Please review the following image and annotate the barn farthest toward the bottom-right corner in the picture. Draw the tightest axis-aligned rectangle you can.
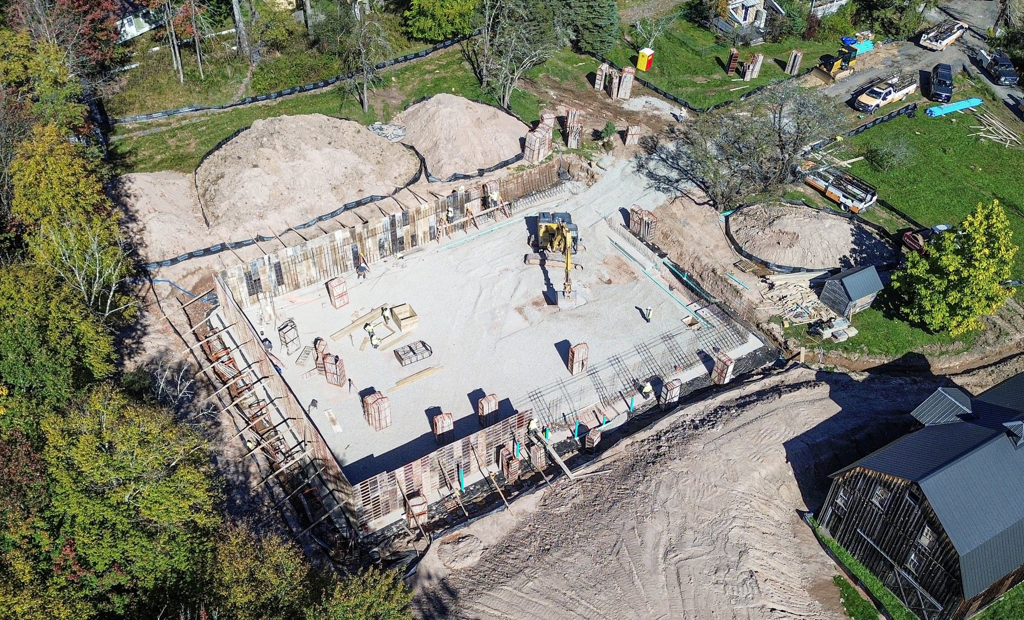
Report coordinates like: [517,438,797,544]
[818,361,1024,620]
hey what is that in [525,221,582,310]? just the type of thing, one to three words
work vehicle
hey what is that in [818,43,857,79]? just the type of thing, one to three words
work vehicle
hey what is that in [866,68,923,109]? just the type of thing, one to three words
truck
